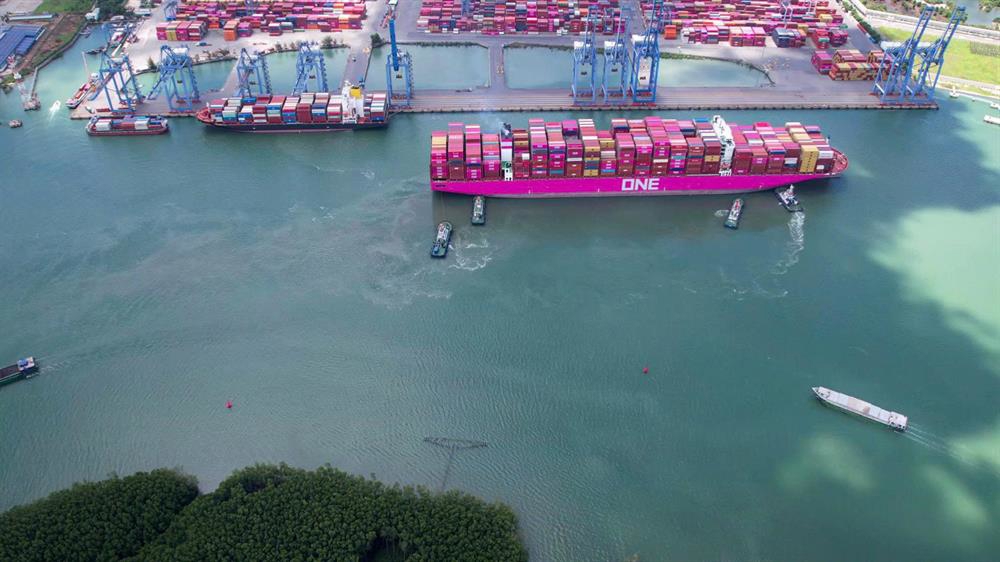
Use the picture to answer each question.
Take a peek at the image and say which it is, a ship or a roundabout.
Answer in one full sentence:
It is a ship that can be seen here.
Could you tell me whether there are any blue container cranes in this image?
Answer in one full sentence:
Yes, there's a blue container crane here.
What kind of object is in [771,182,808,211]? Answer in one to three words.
boat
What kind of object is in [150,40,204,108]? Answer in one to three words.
container crane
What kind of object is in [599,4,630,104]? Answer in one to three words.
container crane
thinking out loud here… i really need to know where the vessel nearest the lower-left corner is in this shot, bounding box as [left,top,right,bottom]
[0,358,41,387]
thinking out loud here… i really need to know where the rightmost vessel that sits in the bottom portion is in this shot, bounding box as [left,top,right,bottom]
[807,384,909,431]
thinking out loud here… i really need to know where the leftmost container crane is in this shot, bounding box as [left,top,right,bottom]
[83,40,145,109]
